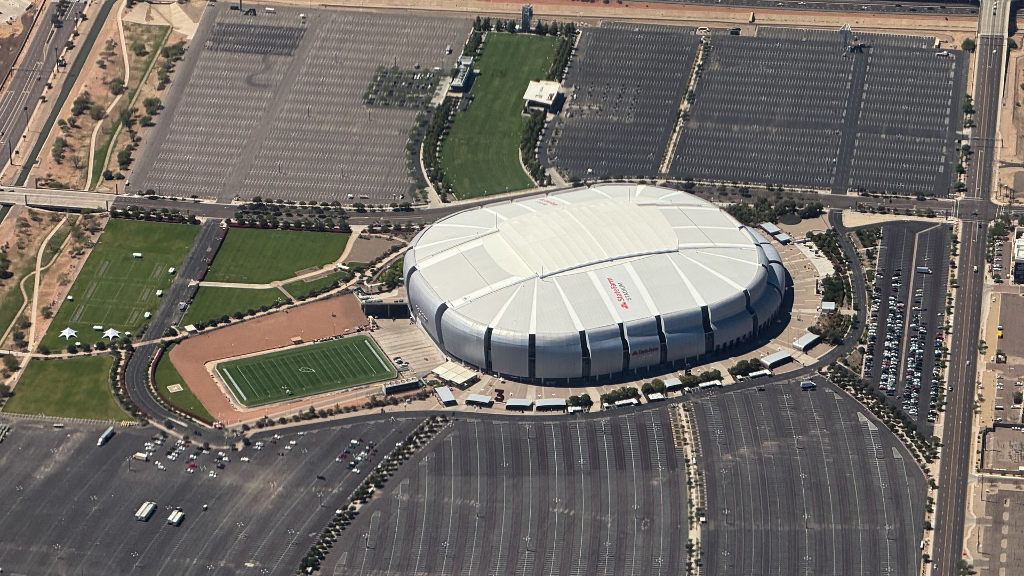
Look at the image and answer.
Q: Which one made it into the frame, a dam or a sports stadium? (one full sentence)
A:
Visible in the photo is a sports stadium.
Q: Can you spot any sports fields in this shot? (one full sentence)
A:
Yes, there's a sports field here.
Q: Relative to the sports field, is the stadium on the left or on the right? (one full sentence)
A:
You can see the stadium positioned to the right of the sports field.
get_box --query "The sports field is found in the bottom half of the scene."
[216,334,396,407]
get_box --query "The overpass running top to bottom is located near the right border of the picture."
[967,0,1017,133]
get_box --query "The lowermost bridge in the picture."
[0,178,118,211]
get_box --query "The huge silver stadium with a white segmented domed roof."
[403,183,784,382]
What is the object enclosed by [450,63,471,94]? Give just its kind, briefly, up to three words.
building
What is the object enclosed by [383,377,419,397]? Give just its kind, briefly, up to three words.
building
